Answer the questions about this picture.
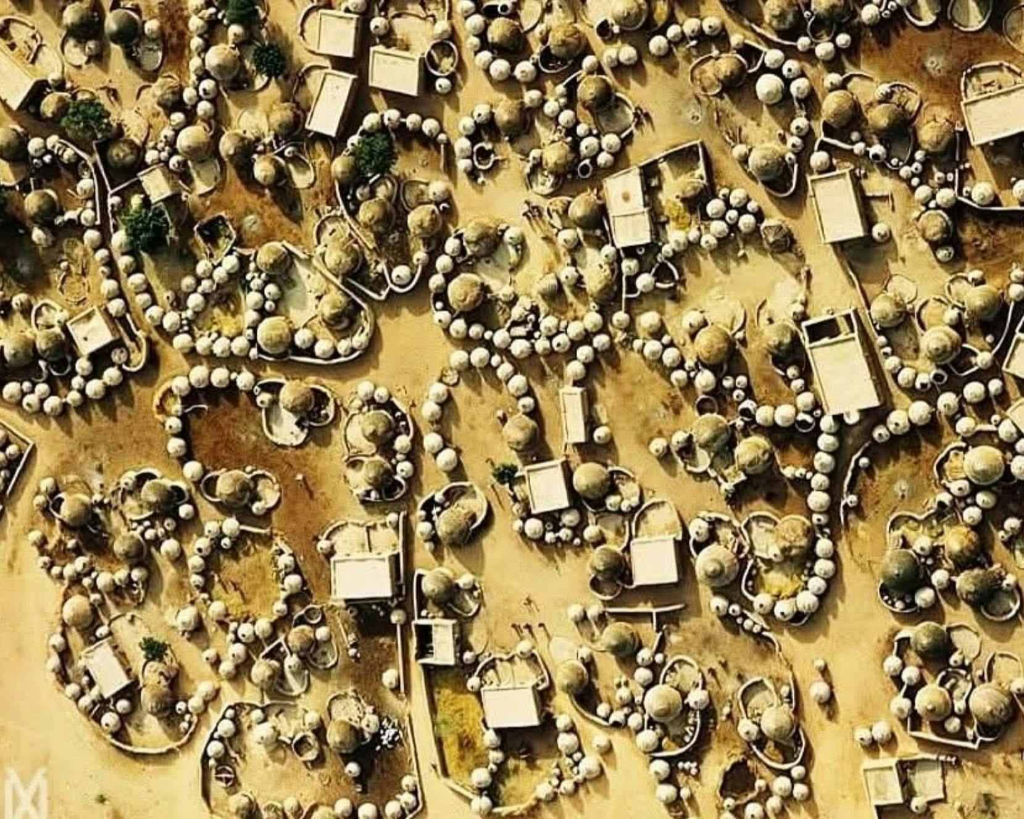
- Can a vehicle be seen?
No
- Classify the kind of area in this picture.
residential area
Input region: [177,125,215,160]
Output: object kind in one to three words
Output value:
shed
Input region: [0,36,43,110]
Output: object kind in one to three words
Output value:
house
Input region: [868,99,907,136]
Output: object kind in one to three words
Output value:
shed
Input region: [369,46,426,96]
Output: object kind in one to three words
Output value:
house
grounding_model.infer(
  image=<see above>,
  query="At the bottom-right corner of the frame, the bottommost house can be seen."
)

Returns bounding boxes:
[863,754,905,804]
